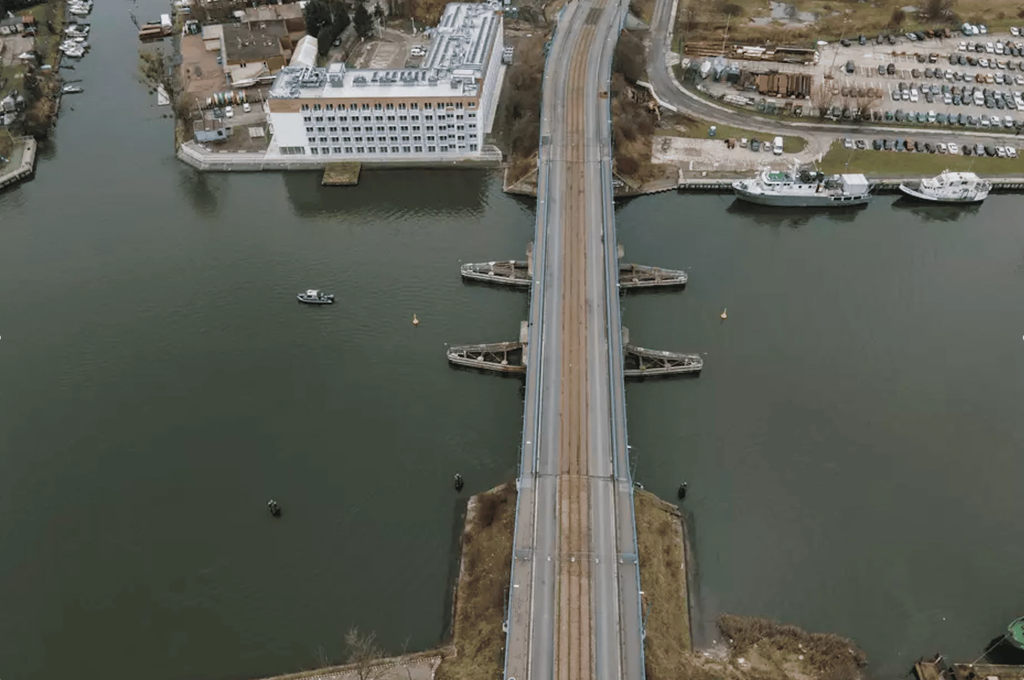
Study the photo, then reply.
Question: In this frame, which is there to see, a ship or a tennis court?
ship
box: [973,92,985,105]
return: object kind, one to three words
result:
vehicle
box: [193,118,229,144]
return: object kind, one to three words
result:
house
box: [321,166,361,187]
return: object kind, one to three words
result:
pier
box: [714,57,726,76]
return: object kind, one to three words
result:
boat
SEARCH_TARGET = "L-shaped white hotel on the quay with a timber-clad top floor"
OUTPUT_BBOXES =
[265,0,503,161]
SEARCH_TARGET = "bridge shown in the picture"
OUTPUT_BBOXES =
[505,0,647,680]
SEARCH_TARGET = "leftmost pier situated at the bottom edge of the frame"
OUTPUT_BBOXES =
[910,651,950,680]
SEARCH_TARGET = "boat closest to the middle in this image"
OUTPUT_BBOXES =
[296,288,336,307]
